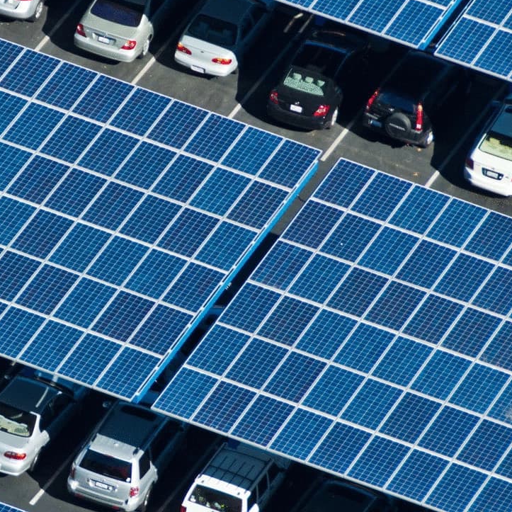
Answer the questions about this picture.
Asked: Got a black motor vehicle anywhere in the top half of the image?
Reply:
Yes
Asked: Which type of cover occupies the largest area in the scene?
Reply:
buildings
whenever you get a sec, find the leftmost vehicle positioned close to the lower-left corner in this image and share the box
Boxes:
[0,363,87,479]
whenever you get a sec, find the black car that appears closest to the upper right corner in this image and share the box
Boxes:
[362,41,476,147]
